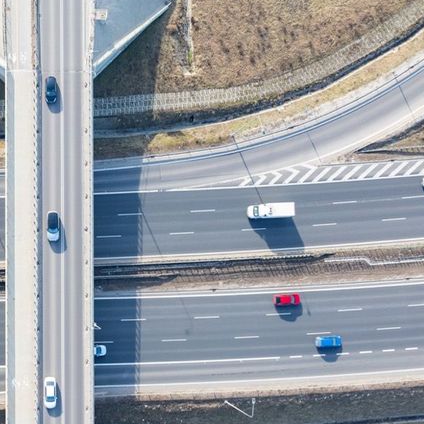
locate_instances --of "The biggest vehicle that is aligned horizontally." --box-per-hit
[244,202,298,218]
